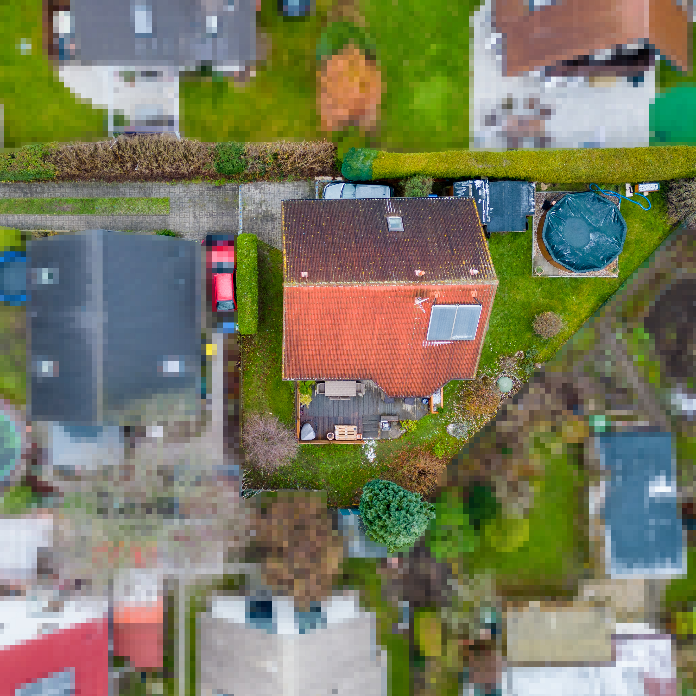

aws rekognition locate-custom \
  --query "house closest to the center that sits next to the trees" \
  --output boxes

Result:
[280,195,499,400]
